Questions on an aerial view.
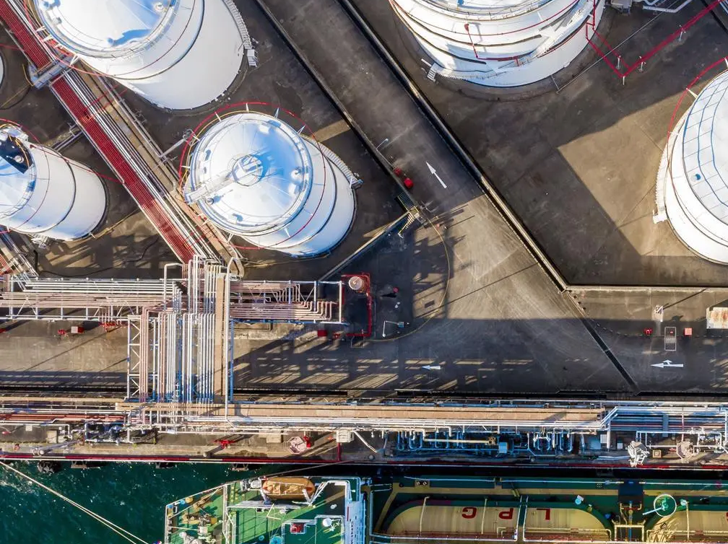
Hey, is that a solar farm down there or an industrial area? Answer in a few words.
industrial area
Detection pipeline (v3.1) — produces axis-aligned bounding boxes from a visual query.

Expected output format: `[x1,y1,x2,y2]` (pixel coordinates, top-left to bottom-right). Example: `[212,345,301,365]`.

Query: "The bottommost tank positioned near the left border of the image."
[0,108,113,246]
